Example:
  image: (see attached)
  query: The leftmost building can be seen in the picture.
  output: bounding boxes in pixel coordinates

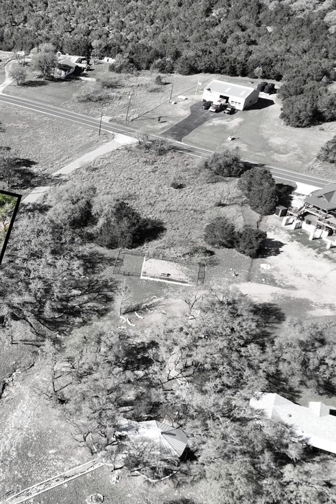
[52,50,94,79]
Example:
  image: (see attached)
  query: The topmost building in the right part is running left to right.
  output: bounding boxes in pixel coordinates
[202,83,258,111]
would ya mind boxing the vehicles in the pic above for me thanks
[223,106,236,115]
[209,97,228,112]
[201,99,212,108]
